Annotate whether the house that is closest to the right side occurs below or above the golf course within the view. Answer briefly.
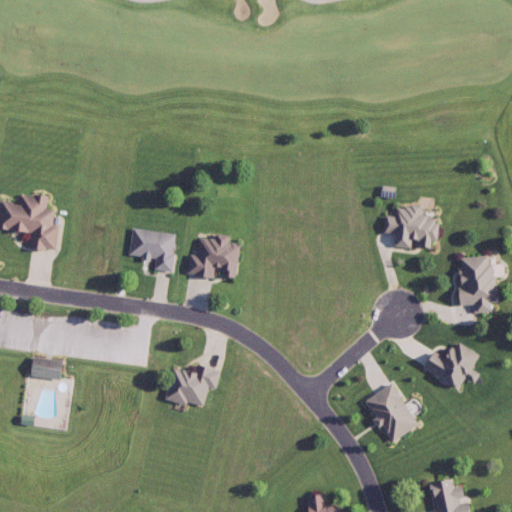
below it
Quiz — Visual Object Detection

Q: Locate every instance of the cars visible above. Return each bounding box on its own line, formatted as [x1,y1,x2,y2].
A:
[211,356,218,366]
[374,309,380,320]
[338,368,348,377]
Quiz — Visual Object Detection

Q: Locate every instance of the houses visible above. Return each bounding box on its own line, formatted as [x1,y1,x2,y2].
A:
[421,345,483,396]
[186,235,242,280]
[386,197,442,250]
[164,369,222,410]
[306,494,338,512]
[430,479,472,512]
[366,384,420,443]
[460,256,496,314]
[129,229,176,272]
[1,194,57,251]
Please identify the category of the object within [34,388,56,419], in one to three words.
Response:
swimming pool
